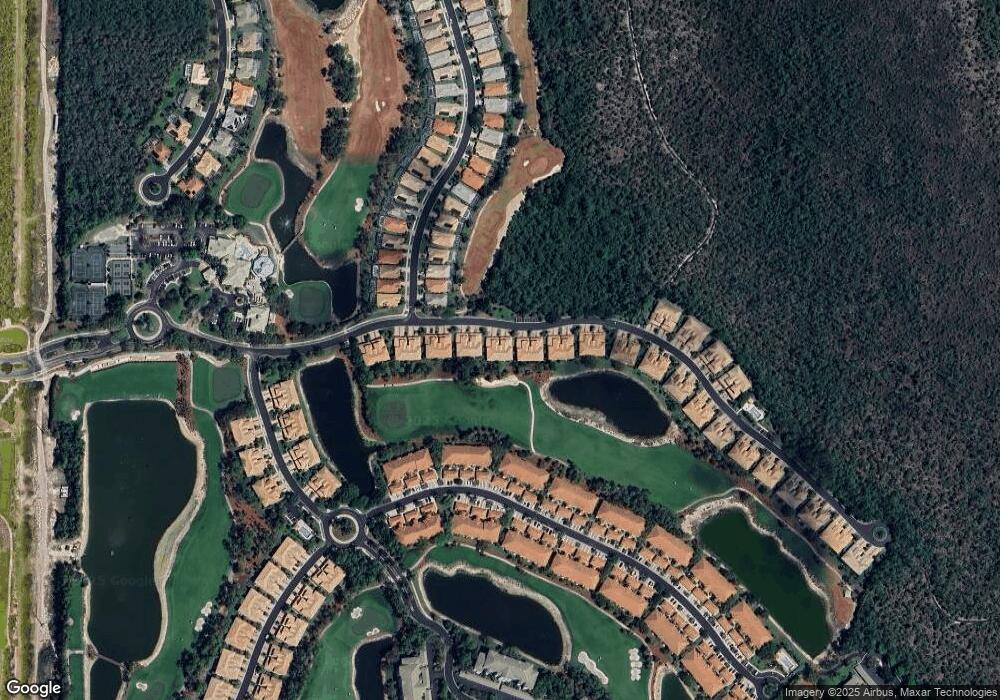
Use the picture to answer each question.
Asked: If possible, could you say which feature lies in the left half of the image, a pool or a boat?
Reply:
pool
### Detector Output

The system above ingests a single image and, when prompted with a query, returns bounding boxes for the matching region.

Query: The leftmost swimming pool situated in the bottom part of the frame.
[297,522,316,544]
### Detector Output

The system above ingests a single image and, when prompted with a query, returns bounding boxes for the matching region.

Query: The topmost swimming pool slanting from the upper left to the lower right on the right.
[744,401,766,421]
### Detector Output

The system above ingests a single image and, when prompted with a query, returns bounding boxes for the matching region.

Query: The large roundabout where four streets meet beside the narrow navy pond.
[323,509,364,550]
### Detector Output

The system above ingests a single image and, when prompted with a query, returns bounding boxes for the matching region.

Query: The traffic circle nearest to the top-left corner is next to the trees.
[141,174,170,203]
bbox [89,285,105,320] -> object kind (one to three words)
tennis court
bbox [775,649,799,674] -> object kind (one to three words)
swimming pool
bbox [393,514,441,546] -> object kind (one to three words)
house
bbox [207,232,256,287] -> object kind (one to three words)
building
